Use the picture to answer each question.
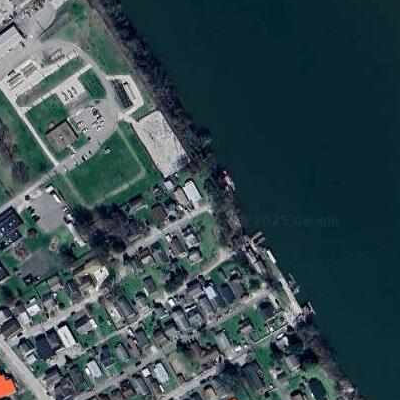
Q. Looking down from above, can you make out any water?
Yes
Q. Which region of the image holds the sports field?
left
